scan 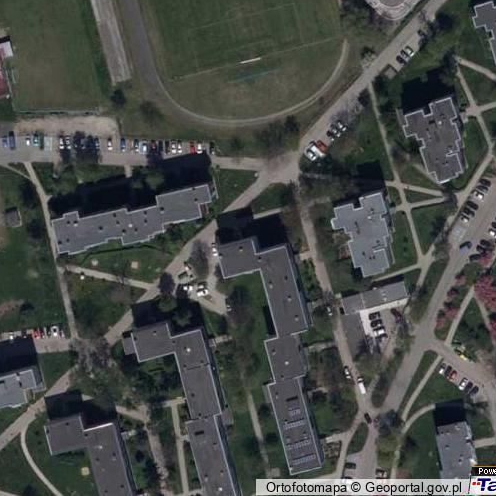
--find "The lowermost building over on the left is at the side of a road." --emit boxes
[45,413,141,496]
